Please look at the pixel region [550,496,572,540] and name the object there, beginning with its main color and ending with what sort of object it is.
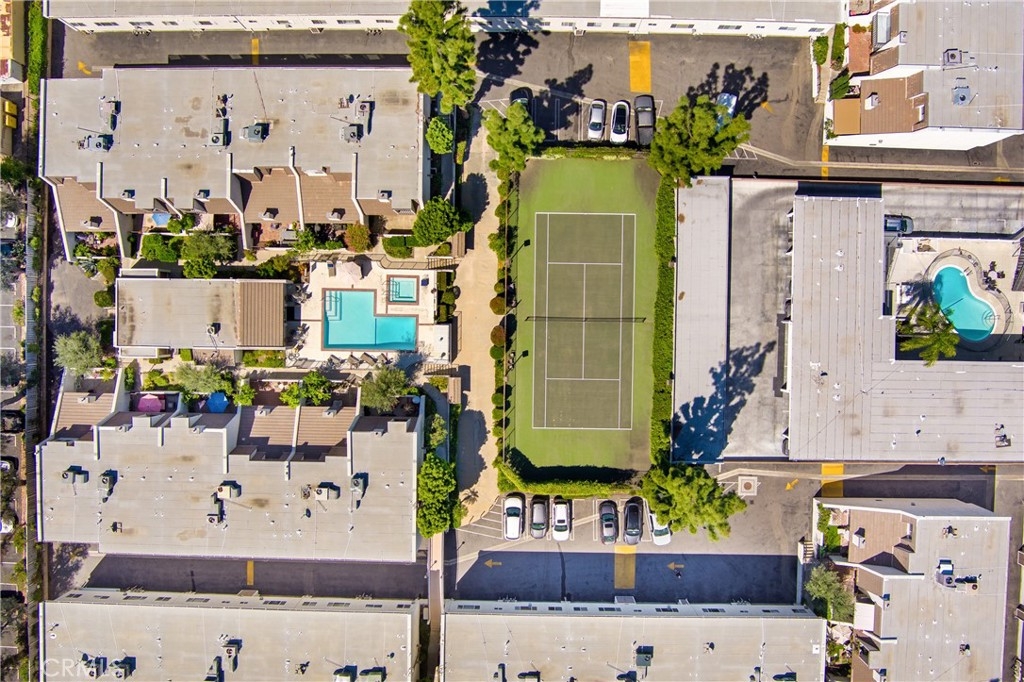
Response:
white car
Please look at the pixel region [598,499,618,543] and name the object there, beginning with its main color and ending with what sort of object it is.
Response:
gray car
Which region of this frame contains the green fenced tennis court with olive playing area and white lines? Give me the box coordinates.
[507,157,660,486]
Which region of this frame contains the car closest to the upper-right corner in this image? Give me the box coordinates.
[884,212,915,234]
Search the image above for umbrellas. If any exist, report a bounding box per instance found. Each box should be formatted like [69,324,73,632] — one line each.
[208,391,231,411]
[142,390,163,411]
[828,620,847,640]
[339,255,366,283]
[152,215,171,227]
